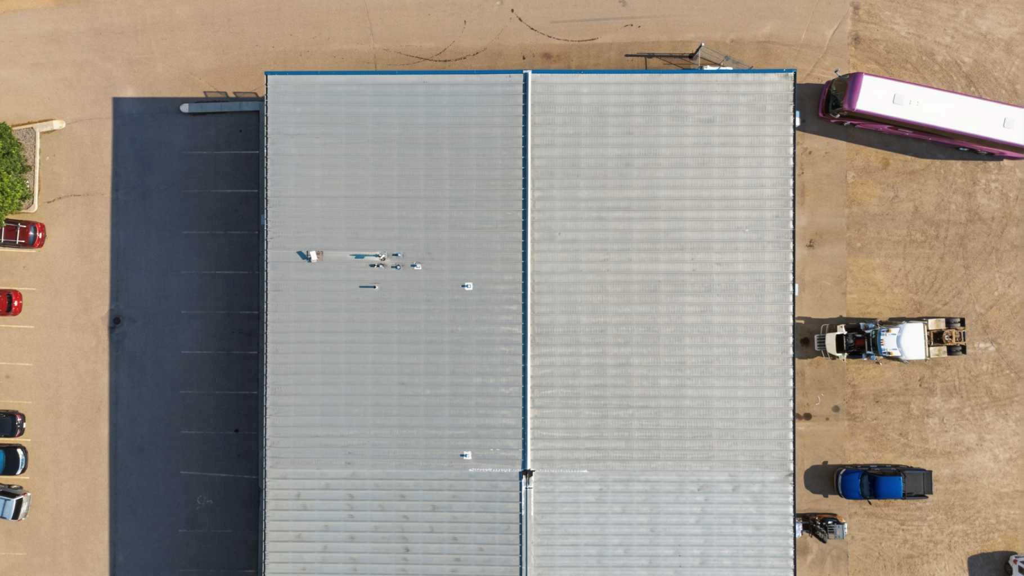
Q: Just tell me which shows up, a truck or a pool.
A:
truck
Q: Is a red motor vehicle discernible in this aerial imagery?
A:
Yes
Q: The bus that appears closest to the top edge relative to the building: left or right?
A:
to the right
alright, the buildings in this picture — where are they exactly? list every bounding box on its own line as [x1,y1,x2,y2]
[263,68,797,576]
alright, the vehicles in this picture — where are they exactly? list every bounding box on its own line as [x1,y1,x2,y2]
[0,444,30,475]
[0,218,49,247]
[0,289,24,316]
[0,486,33,519]
[795,511,847,551]
[831,465,932,505]
[1008,555,1024,576]
[812,317,966,367]
[0,409,28,437]
[818,67,1024,159]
